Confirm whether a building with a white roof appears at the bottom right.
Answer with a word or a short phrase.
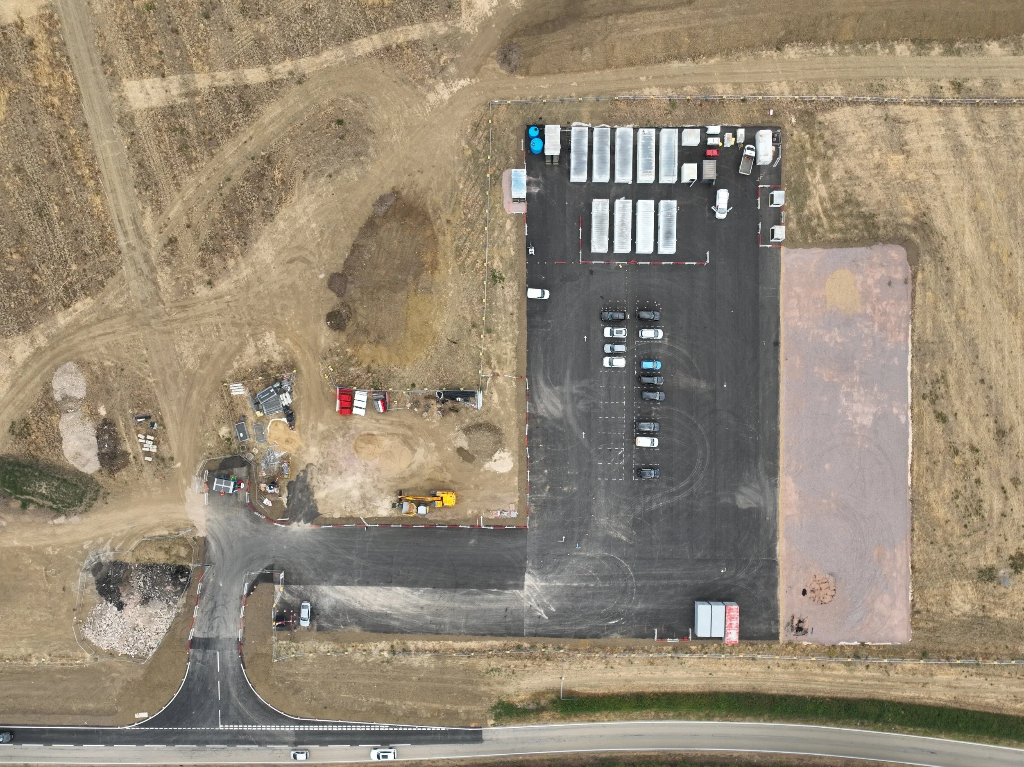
No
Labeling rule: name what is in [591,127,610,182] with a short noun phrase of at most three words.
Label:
building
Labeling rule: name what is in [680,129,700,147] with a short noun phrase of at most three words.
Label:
building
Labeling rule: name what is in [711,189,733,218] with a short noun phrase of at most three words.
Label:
vehicle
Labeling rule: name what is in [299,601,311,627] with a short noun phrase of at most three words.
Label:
vehicle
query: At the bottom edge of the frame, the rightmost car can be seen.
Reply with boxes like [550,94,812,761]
[370,747,396,762]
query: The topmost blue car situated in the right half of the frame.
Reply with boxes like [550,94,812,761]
[640,359,662,371]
